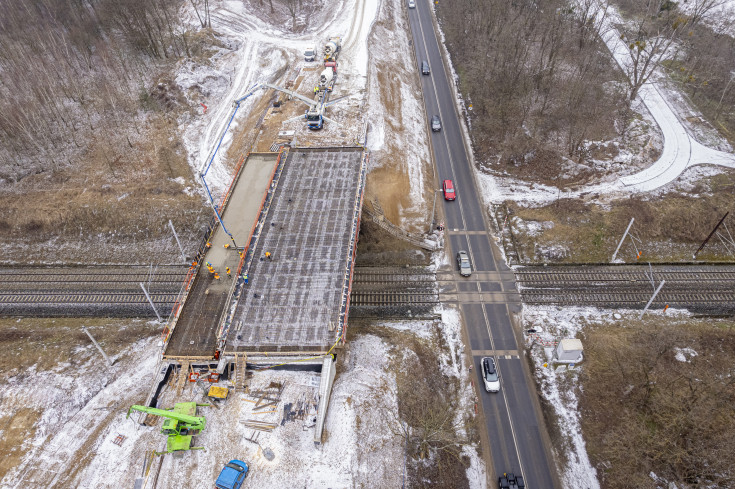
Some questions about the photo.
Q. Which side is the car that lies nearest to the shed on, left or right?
right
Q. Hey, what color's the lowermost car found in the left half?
blue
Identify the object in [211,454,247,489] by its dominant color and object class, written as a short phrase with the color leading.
blue car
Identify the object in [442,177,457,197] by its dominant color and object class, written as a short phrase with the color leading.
red car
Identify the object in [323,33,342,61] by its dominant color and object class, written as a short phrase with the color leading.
white vehicle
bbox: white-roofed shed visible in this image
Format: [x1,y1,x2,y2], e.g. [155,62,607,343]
[553,338,582,364]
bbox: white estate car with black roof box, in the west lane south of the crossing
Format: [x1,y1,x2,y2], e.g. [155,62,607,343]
[477,353,499,390]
